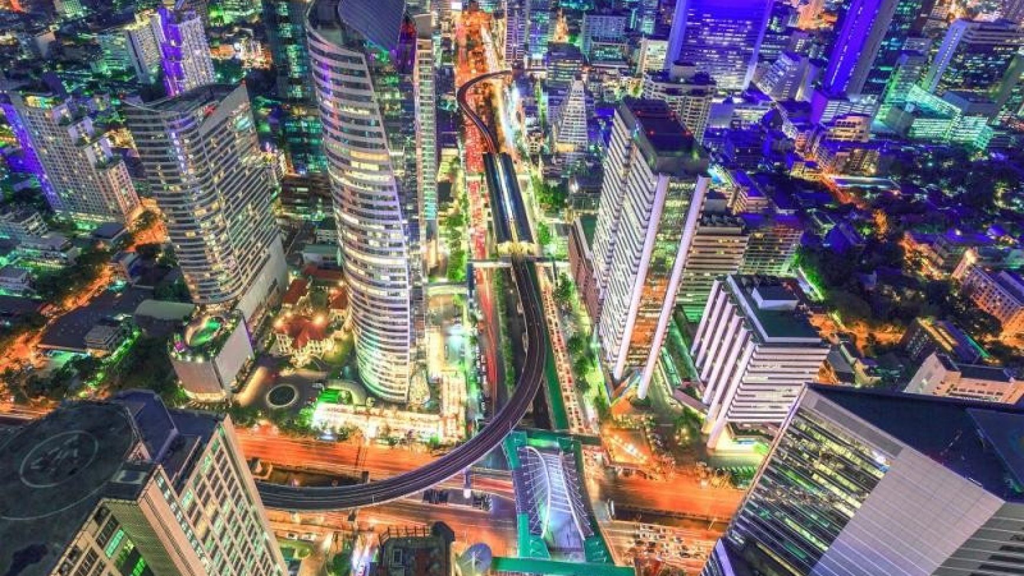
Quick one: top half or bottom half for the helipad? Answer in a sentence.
It is in the bottom half that the helipad appears.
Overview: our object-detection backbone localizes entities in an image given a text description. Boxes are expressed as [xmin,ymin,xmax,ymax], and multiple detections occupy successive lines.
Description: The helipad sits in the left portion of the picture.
[0,388,153,576]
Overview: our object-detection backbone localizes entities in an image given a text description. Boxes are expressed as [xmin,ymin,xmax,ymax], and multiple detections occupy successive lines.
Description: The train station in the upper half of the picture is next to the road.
[483,152,536,268]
